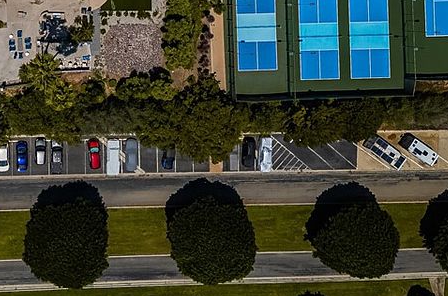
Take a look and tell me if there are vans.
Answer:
Yes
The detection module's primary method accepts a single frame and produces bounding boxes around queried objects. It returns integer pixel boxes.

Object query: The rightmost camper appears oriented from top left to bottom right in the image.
[395,130,441,168]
